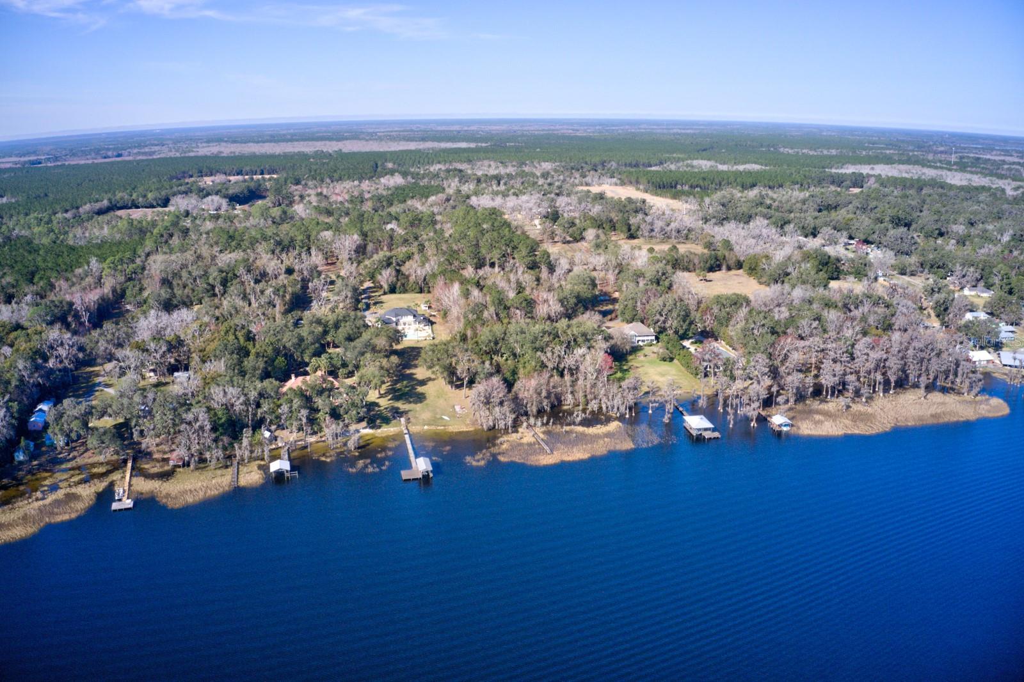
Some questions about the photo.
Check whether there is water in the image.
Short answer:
Yes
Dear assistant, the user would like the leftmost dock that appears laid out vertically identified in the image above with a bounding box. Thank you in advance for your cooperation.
[106,454,135,513]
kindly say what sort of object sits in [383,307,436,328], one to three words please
building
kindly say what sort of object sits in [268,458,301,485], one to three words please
building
